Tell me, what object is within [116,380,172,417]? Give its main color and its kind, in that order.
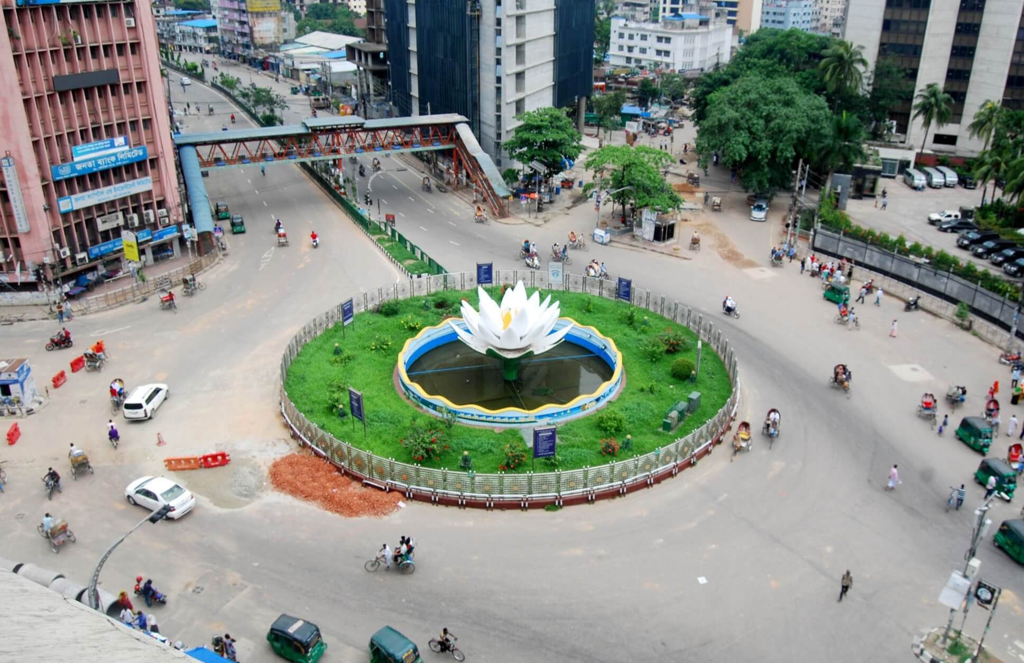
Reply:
white car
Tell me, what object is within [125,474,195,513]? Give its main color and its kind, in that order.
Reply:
white car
